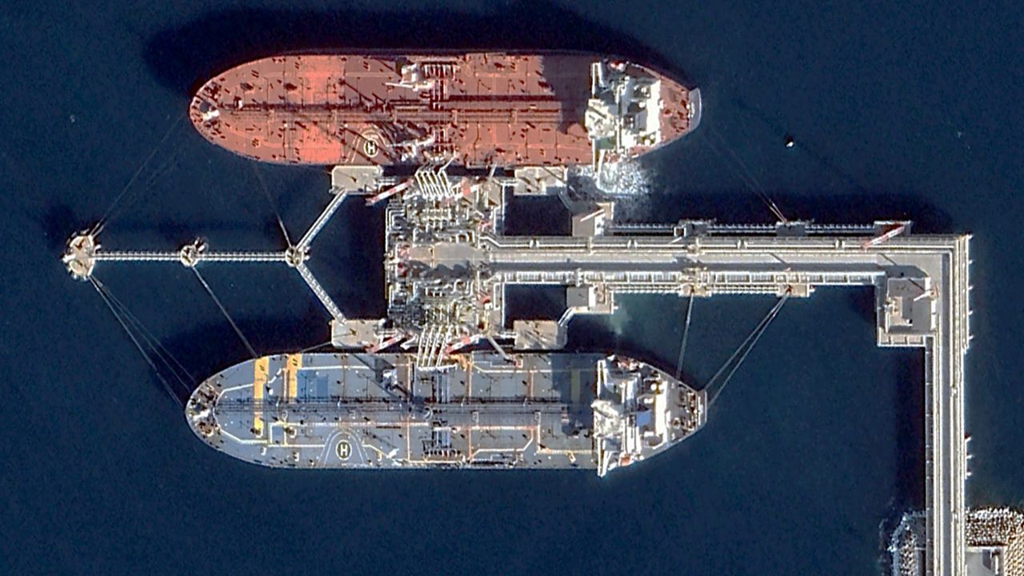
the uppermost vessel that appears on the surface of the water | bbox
[189,47,703,176]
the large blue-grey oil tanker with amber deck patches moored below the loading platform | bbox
[185,349,708,478]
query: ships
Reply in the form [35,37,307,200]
[185,349,708,478]
[189,47,703,176]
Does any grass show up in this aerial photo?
No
